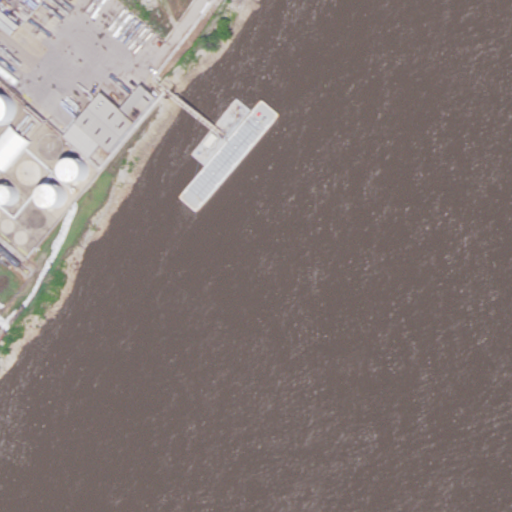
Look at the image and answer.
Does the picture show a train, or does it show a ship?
ship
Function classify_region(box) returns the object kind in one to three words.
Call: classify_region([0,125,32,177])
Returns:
building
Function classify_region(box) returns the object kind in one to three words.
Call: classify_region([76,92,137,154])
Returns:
building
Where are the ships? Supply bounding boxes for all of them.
[192,98,252,167]
[180,100,279,213]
